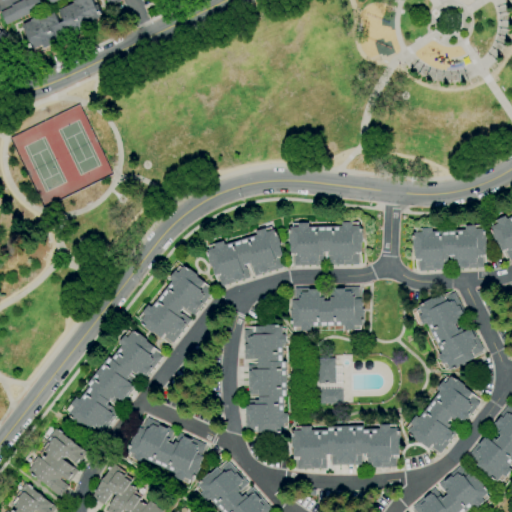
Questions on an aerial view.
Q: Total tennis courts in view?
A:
2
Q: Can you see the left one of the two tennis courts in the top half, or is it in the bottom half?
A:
top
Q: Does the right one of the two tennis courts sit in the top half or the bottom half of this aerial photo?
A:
top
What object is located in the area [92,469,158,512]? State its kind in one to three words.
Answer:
building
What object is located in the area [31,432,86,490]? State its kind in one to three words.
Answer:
building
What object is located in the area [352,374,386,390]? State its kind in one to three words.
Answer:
swimming pool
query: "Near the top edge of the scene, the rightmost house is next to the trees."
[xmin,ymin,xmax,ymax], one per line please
[22,0,100,50]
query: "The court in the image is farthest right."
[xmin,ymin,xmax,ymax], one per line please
[46,104,112,188]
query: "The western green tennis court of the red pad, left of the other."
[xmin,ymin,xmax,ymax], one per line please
[12,121,78,202]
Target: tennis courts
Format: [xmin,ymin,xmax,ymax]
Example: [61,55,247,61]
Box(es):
[46,104,112,188]
[12,121,78,202]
